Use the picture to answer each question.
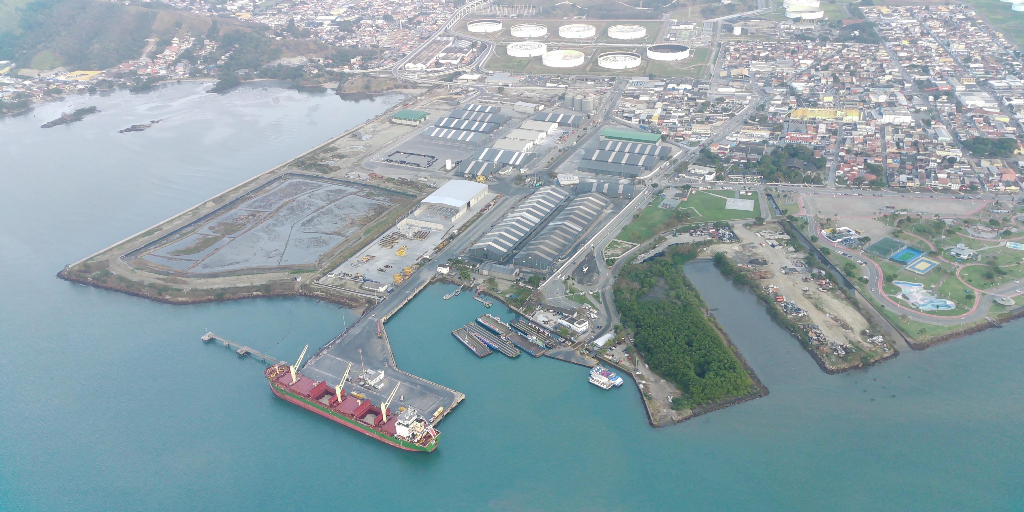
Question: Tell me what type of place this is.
port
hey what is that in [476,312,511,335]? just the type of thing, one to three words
ship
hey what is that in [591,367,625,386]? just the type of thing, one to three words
boat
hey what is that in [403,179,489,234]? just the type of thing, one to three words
hangar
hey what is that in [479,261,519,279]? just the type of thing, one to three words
building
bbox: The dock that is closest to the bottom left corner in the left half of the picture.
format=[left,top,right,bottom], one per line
[201,332,288,370]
